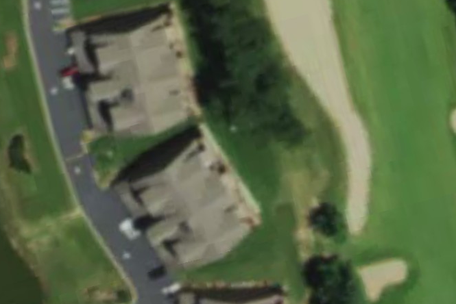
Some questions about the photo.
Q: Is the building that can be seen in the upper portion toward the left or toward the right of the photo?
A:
left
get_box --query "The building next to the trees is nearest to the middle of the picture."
[115,133,255,269]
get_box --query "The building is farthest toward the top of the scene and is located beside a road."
[67,1,198,133]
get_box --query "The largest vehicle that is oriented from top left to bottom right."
[121,218,137,241]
